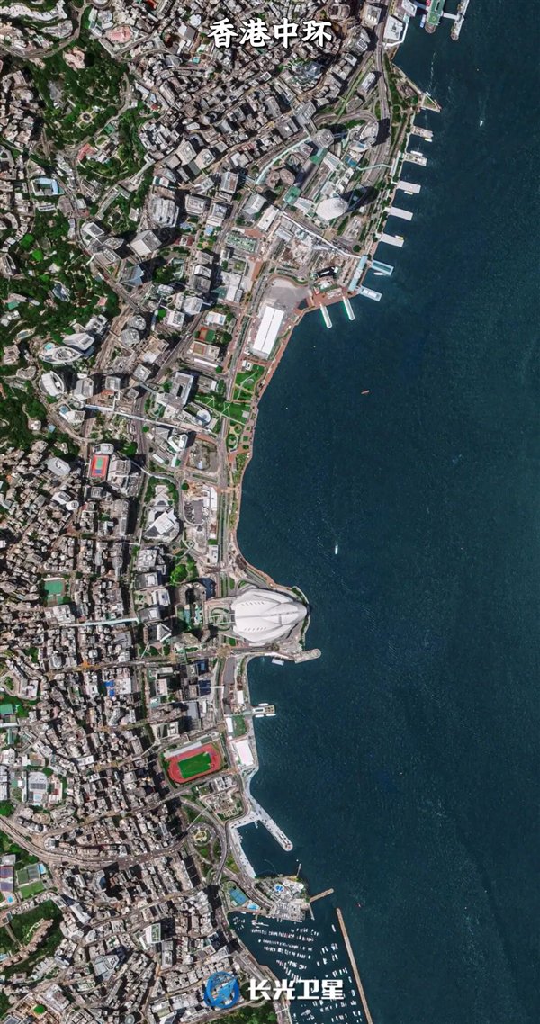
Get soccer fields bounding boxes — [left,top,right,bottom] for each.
[43,577,64,596]
[175,752,210,779]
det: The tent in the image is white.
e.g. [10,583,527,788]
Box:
[252,306,285,355]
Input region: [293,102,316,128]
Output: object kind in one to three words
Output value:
building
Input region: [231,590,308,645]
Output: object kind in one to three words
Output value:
building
